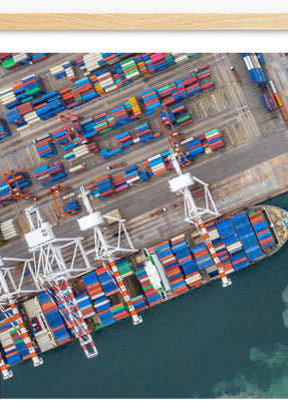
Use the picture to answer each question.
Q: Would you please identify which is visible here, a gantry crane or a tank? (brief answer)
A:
gantry crane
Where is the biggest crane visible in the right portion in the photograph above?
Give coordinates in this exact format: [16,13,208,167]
[164,148,231,285]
